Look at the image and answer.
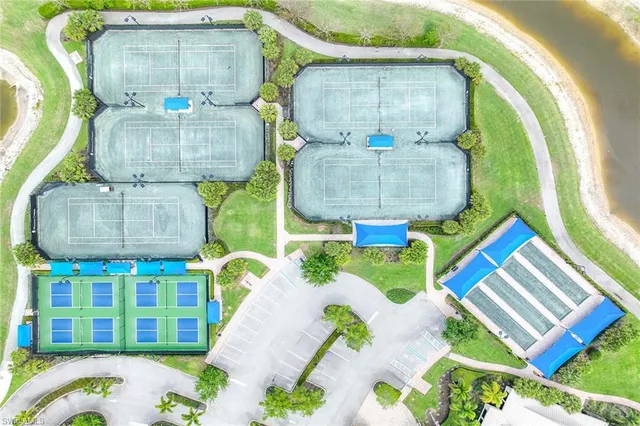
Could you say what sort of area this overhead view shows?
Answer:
sports ground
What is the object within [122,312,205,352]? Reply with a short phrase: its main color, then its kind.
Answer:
green sports court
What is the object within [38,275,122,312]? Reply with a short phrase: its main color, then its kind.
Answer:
green sports court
